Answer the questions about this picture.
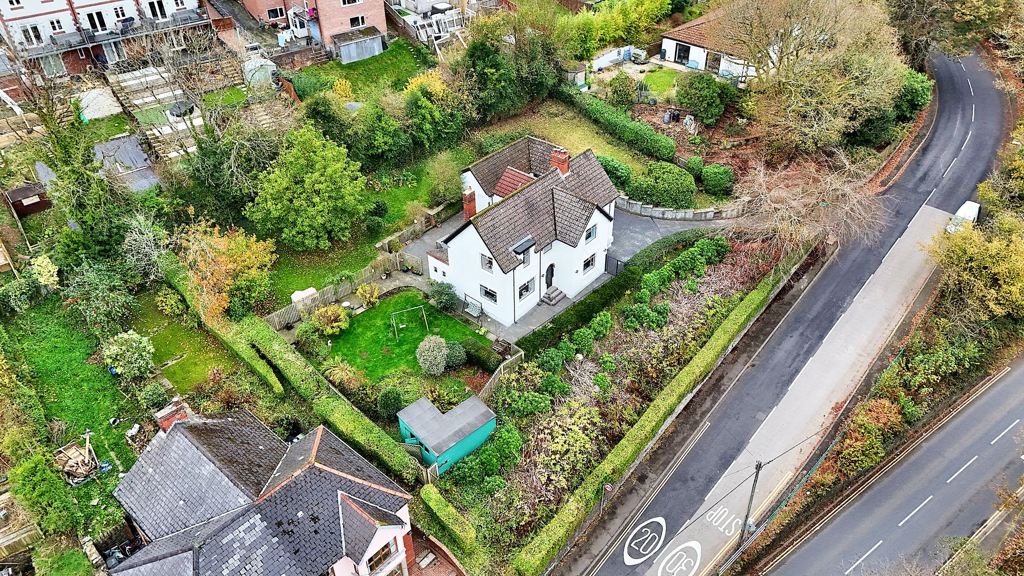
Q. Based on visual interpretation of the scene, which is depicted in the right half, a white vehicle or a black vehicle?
white vehicle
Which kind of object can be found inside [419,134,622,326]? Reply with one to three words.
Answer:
house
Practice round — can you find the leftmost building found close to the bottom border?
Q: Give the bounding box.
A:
[104,397,415,576]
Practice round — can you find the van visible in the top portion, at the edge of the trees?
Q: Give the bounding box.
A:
[949,194,986,236]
